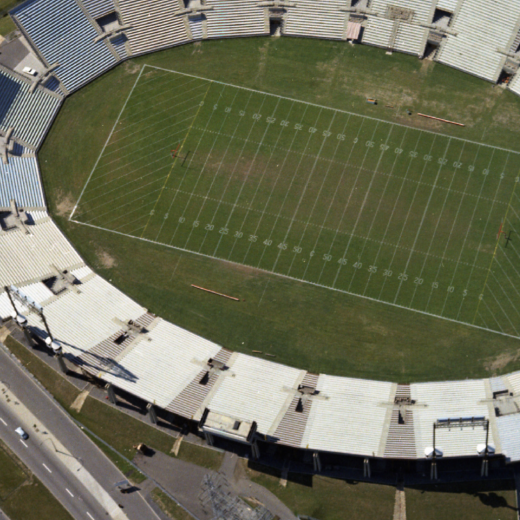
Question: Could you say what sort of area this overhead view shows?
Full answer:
What you see here is a sports ground.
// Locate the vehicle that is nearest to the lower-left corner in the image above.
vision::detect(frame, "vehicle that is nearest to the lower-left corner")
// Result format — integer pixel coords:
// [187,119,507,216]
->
[12,424,30,440]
